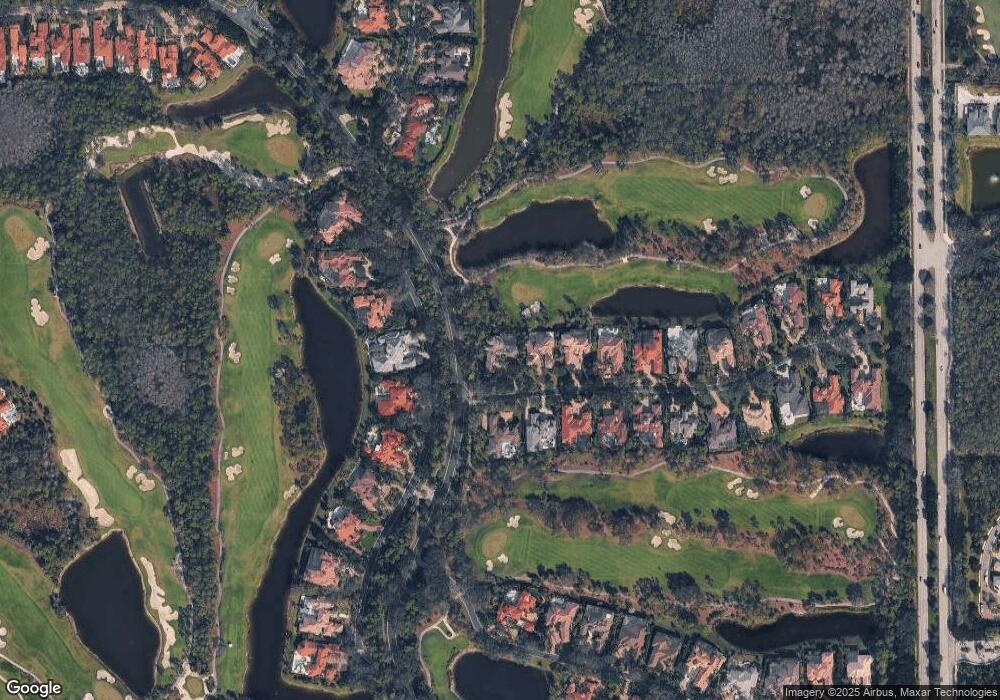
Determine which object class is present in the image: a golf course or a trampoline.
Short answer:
golf course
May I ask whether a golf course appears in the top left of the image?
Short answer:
Yes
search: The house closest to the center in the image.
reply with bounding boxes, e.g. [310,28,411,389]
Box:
[484,335,519,373]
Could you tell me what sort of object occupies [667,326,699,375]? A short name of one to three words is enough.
house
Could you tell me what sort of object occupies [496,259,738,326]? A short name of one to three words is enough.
golf course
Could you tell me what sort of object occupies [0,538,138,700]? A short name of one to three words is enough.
golf course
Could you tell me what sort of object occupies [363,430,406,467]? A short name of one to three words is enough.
house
